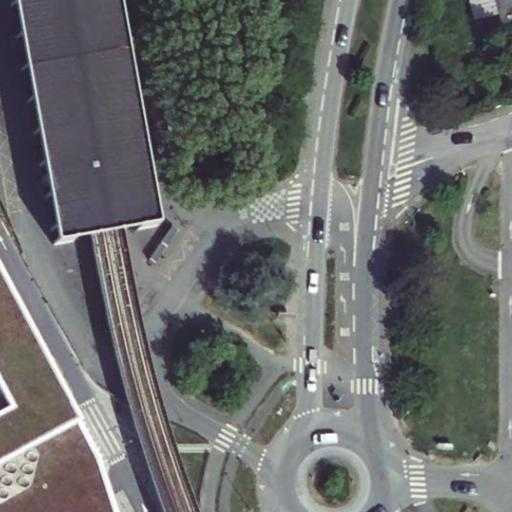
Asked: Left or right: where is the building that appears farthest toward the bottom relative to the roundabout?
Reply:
to its left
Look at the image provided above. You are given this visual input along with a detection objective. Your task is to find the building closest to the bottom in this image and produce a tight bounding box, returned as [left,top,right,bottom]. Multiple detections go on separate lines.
[0,256,118,512]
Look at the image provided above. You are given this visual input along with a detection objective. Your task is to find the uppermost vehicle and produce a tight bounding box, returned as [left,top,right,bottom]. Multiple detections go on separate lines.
[336,25,348,47]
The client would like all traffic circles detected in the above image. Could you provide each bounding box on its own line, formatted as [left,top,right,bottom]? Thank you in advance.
[260,409,408,512]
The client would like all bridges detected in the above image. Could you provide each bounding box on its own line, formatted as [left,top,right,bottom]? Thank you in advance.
[90,227,198,512]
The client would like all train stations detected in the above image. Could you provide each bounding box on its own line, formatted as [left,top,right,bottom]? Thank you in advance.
[16,0,163,246]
